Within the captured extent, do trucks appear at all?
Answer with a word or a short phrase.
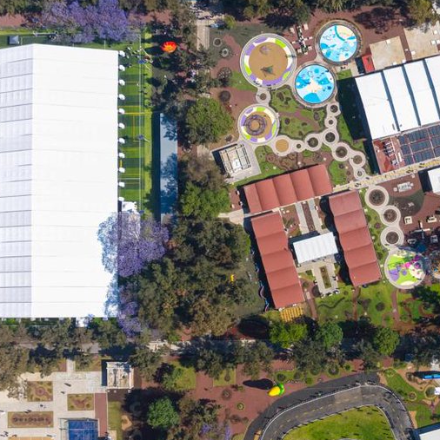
No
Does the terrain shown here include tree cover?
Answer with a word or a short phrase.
Yes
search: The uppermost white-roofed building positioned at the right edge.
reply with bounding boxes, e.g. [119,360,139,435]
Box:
[355,56,440,176]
